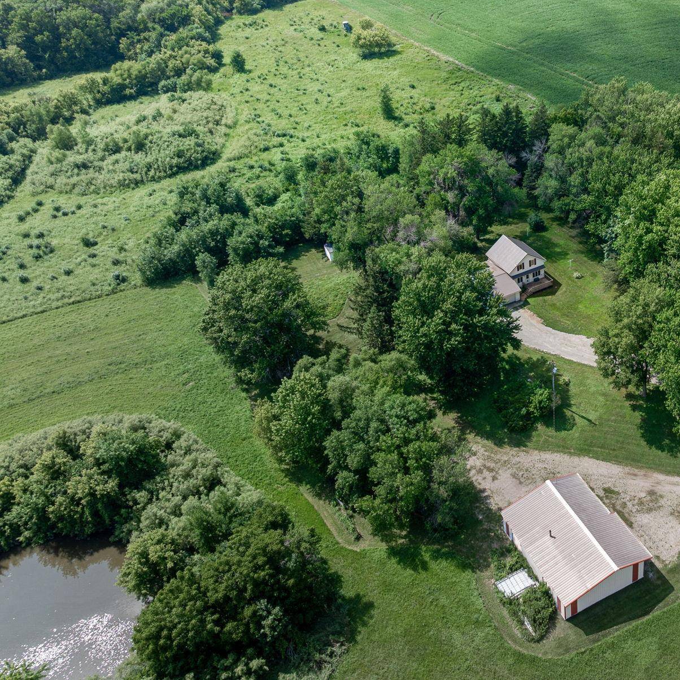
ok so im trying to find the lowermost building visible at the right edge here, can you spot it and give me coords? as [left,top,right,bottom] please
[499,473,653,621]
